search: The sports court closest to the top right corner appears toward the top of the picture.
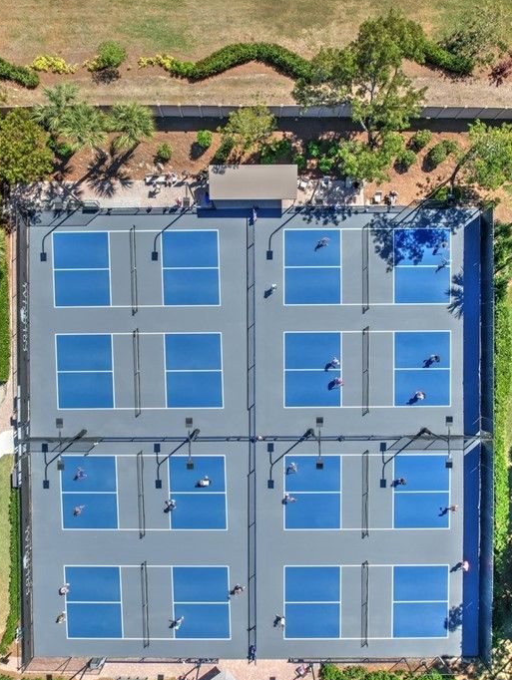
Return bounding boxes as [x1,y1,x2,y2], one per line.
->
[284,227,452,306]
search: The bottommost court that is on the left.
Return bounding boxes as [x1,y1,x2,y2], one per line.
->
[63,566,231,640]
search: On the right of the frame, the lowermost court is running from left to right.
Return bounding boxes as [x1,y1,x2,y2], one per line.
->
[284,565,450,640]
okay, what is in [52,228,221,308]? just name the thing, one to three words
sports court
